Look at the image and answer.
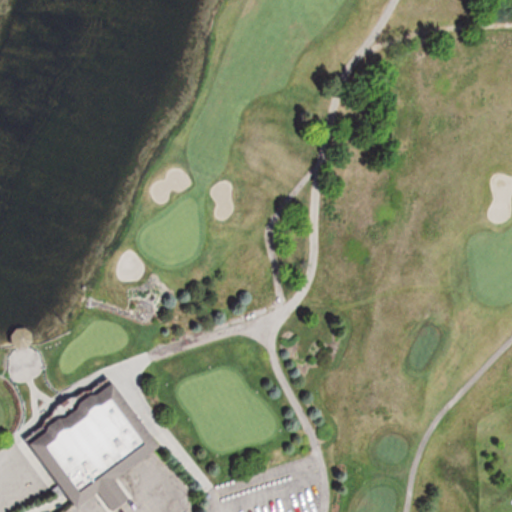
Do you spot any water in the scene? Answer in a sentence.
Yes, water shows up in the scene.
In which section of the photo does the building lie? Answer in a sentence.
The building is in the bottom left part of the image.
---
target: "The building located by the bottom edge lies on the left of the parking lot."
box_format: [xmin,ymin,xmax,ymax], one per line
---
[25,379,162,512]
